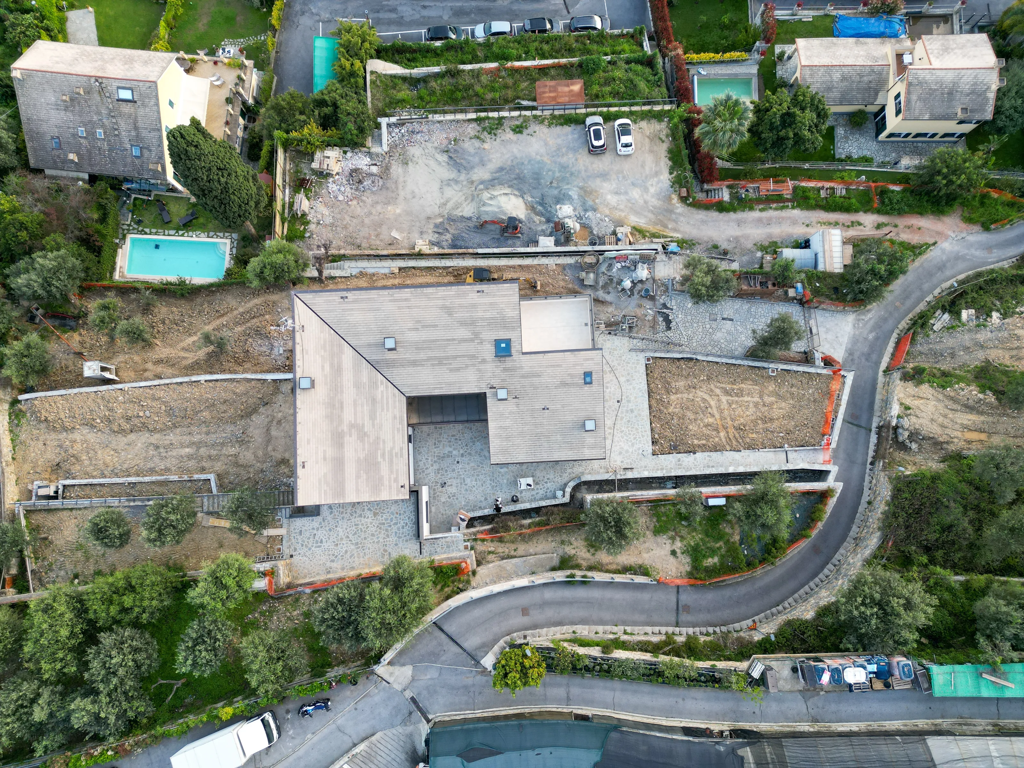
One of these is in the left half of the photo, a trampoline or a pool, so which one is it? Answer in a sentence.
You can see a pool in the left half of the photo.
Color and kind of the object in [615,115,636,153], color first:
white car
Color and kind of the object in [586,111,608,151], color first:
white car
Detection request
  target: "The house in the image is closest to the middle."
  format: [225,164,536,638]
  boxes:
[286,280,607,541]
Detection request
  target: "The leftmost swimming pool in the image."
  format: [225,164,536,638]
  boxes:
[114,234,231,280]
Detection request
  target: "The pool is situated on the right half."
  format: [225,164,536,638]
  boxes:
[689,73,760,112]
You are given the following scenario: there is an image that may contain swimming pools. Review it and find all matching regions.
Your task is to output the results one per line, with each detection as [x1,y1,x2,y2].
[114,234,231,280]
[689,73,760,112]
